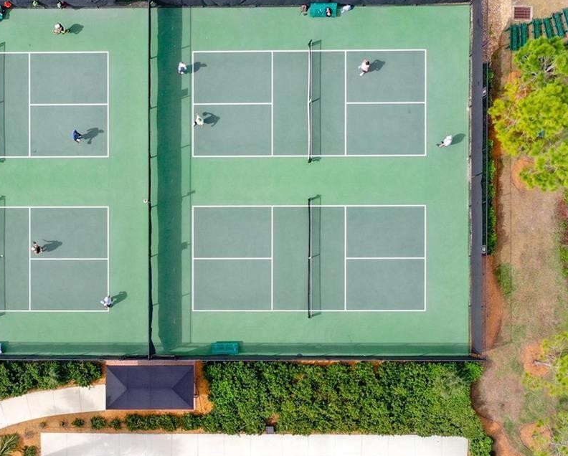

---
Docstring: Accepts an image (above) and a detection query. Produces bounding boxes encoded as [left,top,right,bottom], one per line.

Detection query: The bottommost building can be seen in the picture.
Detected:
[105,361,197,411]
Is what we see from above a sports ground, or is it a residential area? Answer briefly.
sports ground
